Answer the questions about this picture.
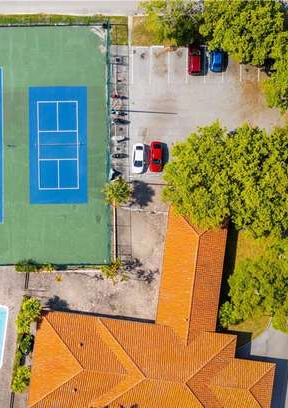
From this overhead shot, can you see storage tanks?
No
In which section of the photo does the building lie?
bottom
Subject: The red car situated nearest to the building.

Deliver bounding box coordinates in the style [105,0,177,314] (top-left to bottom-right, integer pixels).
[149,141,164,172]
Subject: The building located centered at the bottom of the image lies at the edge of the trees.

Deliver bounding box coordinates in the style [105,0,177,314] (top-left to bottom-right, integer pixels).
[30,204,276,408]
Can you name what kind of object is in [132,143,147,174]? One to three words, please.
car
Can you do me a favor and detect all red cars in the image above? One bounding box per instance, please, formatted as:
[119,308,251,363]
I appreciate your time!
[187,45,203,76]
[149,141,164,172]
